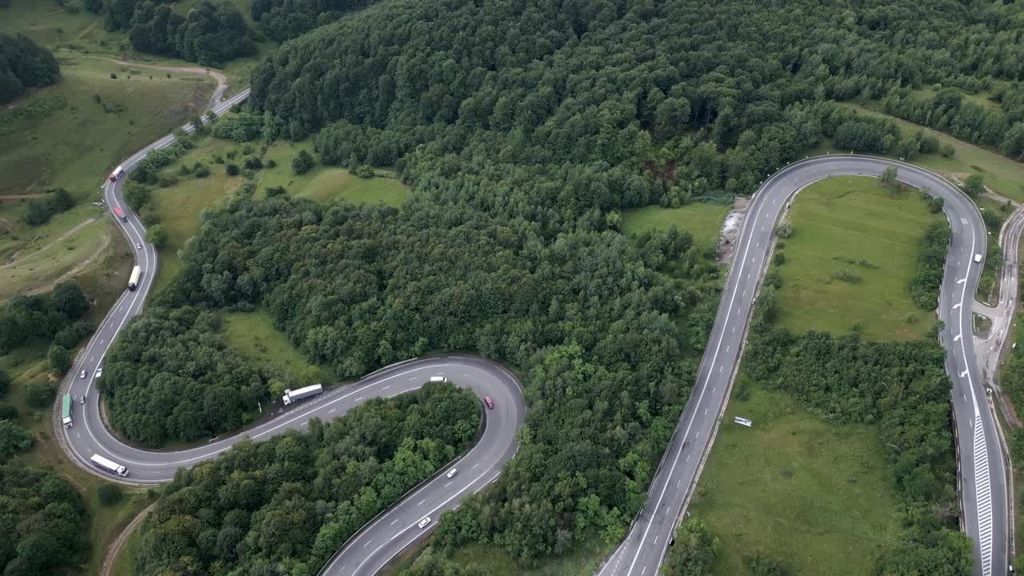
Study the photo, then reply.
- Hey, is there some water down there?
No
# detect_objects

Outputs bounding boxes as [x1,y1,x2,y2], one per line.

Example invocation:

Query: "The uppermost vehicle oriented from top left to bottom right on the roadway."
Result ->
[113,205,128,223]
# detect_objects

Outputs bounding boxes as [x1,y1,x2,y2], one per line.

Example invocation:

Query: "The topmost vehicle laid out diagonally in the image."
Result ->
[109,166,125,183]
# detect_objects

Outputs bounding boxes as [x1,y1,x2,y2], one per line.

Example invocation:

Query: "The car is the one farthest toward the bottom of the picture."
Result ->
[416,517,432,530]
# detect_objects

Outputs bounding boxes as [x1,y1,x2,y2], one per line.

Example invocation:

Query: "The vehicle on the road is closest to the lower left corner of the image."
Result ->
[86,452,131,477]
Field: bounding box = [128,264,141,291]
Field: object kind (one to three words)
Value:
vehicle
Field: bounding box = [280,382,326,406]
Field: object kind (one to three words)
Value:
truck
